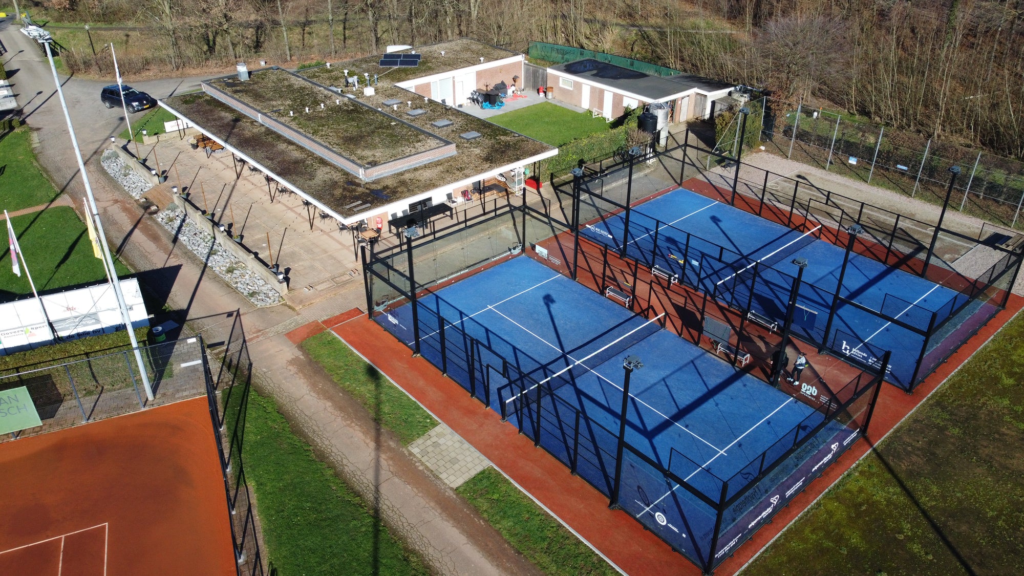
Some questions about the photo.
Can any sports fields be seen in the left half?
No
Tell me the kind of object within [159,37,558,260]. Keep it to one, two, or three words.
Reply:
building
